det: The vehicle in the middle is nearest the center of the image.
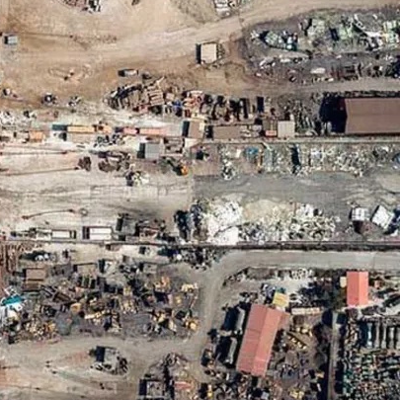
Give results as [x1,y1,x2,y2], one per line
[172,158,192,177]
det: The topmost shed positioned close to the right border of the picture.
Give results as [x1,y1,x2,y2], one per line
[334,98,400,135]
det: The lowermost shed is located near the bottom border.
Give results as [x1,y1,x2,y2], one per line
[145,377,163,397]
